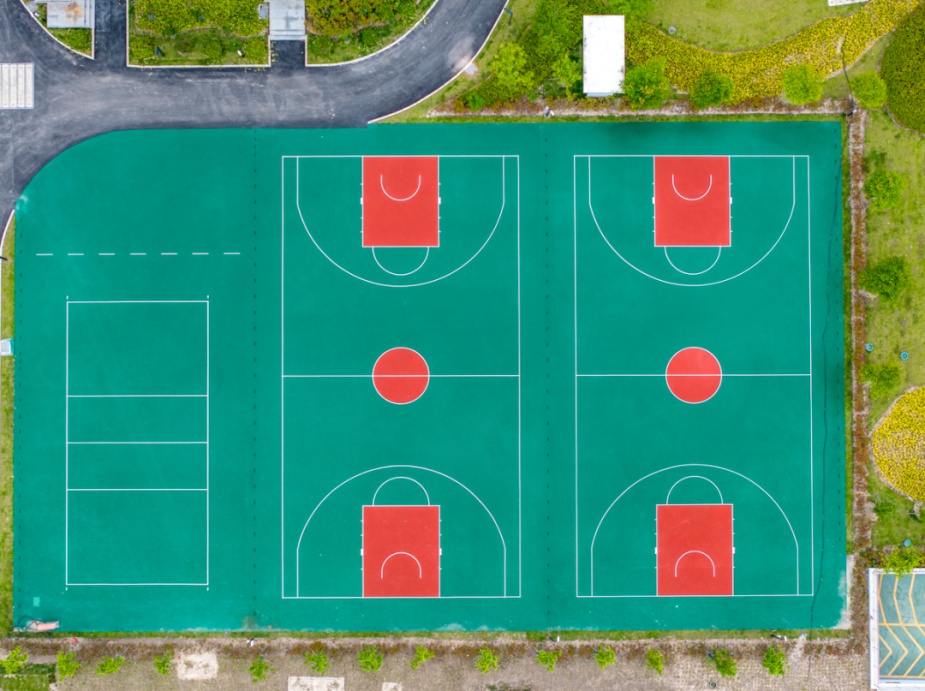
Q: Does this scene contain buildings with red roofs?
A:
No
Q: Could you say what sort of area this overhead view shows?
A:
sports ground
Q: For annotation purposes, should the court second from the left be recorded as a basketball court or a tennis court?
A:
basketball court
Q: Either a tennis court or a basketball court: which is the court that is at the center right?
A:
basketball court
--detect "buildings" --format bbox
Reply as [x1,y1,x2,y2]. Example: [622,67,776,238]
[583,14,625,101]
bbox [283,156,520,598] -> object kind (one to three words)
basketball court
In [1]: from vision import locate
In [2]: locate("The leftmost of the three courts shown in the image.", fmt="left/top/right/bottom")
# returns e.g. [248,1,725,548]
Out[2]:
[66,294,208,592]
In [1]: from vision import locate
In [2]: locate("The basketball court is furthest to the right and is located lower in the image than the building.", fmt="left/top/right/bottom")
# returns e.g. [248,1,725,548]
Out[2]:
[575,155,813,596]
